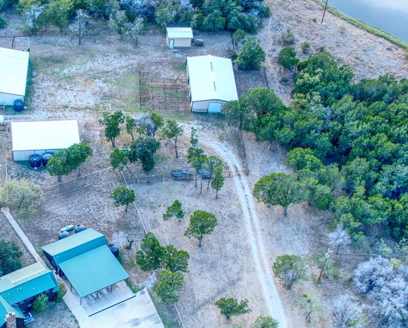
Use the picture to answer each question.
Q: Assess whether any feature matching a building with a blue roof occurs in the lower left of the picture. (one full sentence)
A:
Yes, looking in the lower left of the picture, one can make out a building with a blue roof.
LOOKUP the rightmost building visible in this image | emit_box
[184,54,237,114]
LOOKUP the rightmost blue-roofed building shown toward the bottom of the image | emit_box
[41,227,129,305]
